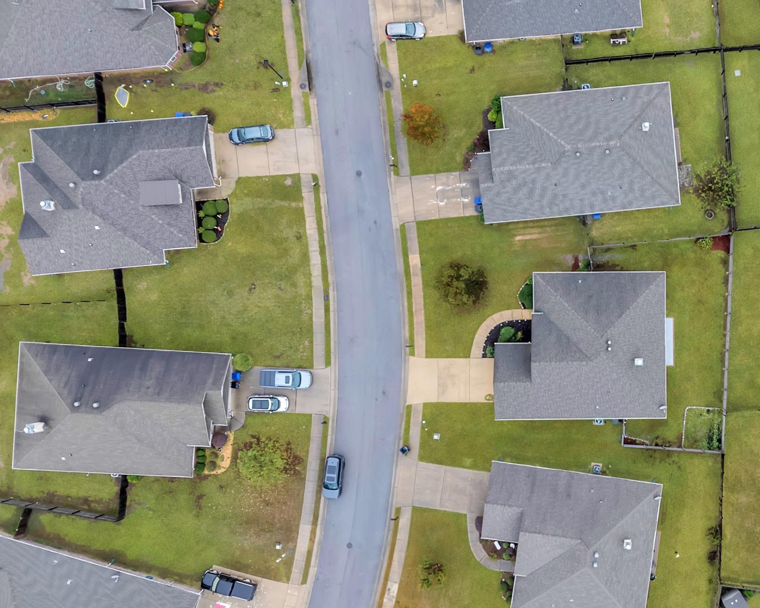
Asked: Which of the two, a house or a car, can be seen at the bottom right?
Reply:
house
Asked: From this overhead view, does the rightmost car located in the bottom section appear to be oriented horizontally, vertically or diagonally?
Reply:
vertically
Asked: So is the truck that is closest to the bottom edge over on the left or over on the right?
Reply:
left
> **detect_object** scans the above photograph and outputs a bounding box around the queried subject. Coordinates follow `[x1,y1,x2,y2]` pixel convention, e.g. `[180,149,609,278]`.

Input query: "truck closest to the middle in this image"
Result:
[258,368,313,390]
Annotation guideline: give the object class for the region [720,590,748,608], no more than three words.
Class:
shed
